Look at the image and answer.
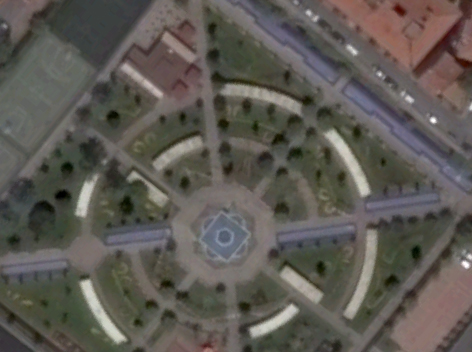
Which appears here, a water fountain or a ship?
water fountain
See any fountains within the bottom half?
Yes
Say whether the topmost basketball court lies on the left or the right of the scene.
left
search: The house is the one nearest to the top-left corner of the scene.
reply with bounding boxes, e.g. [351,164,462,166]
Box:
[121,21,201,100]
